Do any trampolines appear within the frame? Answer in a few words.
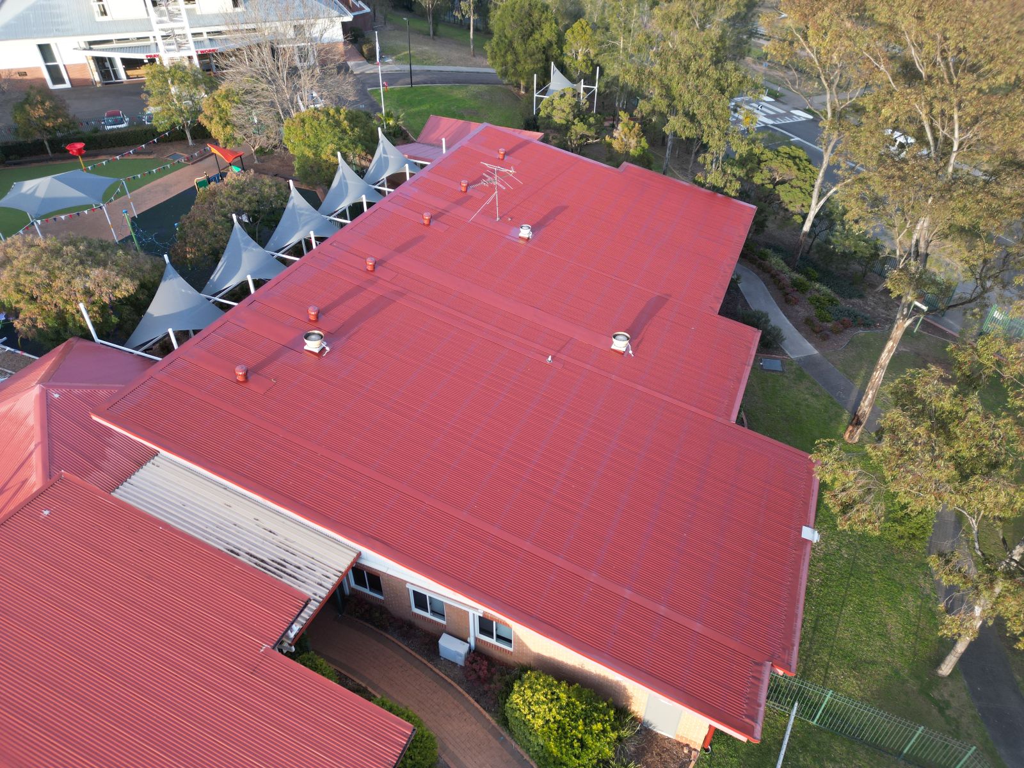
No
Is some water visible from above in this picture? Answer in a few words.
No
